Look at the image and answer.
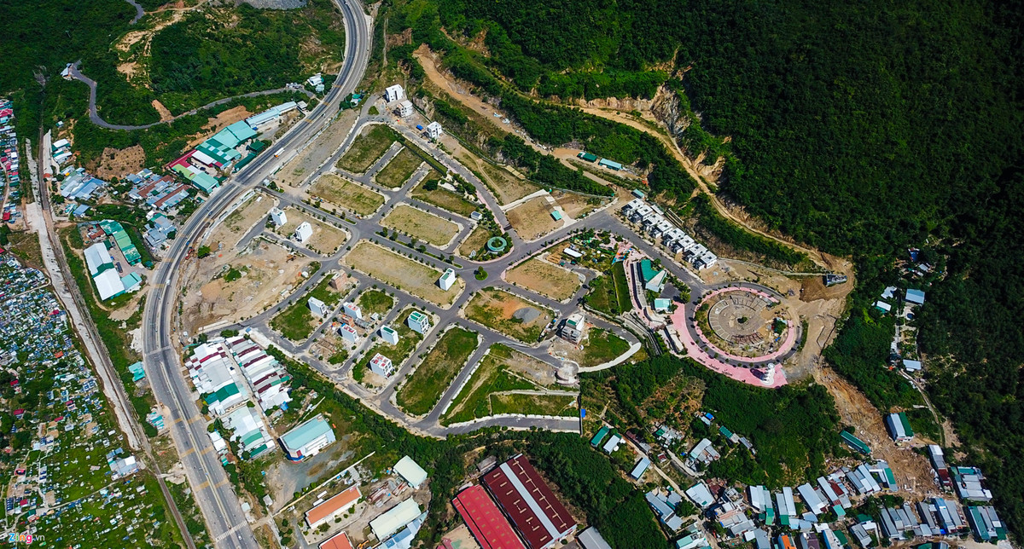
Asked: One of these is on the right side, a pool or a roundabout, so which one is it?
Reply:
roundabout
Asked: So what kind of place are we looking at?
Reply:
residential area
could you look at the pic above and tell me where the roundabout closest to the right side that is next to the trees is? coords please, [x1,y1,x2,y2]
[683,281,805,369]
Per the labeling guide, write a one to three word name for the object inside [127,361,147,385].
building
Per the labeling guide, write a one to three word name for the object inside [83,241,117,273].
building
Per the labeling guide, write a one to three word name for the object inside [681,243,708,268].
house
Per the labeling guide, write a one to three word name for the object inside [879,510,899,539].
house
